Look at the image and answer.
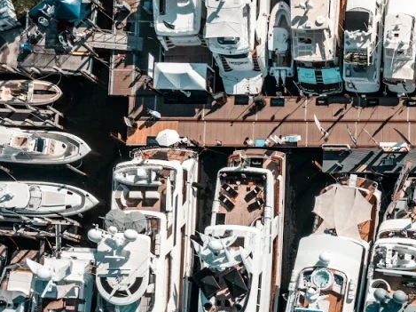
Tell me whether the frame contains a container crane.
No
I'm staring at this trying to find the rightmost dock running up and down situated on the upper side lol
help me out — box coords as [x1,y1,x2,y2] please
[109,0,154,95]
